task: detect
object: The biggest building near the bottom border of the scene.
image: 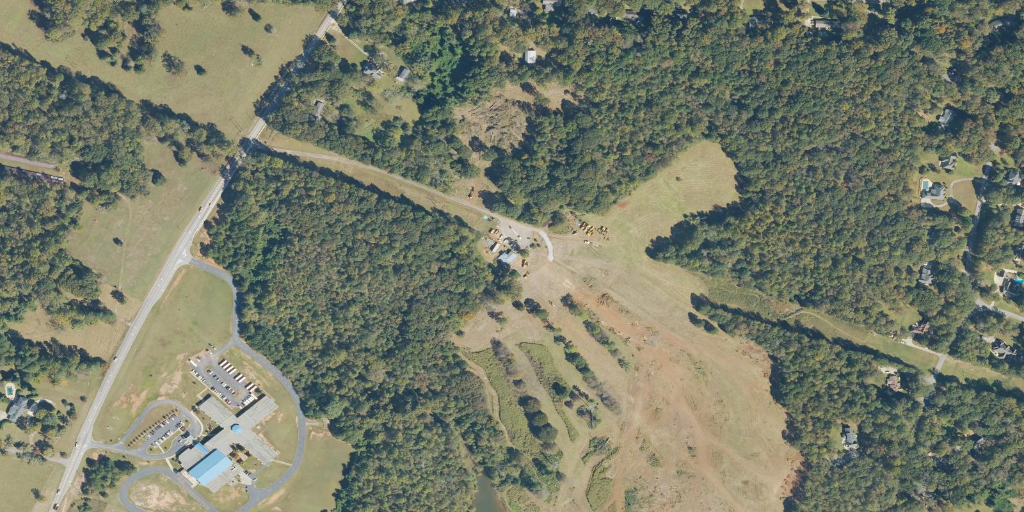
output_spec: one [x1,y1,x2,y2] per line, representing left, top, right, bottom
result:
[178,395,278,493]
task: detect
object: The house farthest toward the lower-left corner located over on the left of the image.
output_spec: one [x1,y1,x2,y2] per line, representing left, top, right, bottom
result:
[6,394,28,423]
